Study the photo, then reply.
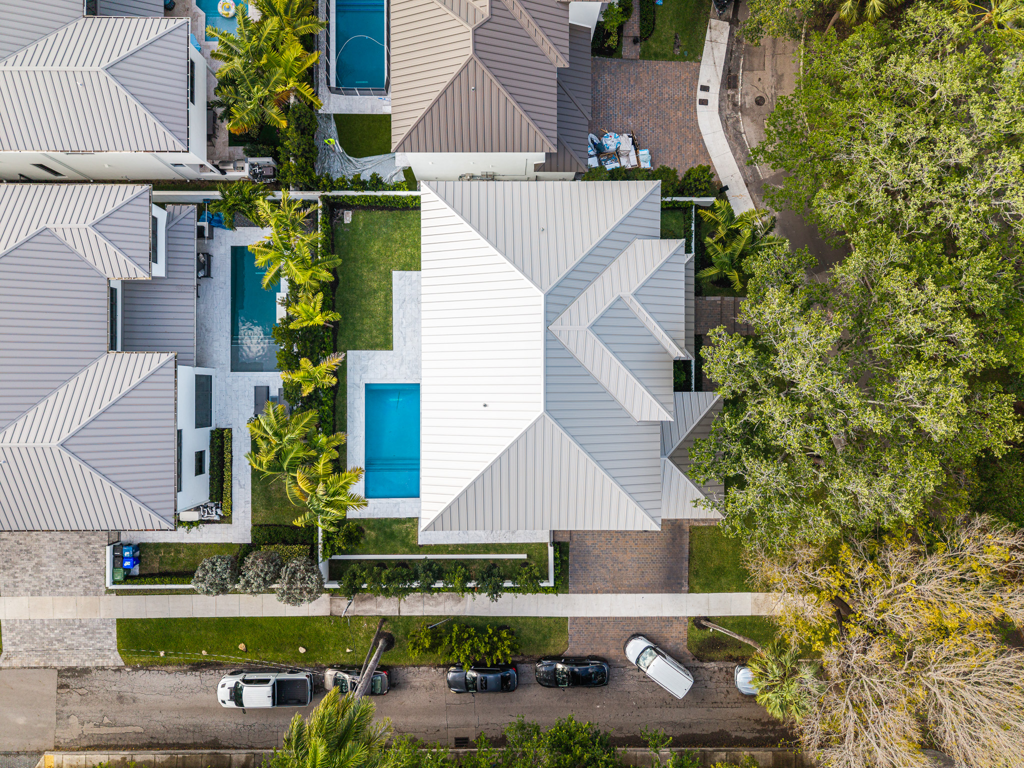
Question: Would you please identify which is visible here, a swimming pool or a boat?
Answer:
swimming pool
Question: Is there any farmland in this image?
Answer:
No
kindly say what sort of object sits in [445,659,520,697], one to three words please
car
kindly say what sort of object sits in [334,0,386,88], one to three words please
swimming pool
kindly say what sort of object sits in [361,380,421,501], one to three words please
swimming pool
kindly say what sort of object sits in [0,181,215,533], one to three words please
house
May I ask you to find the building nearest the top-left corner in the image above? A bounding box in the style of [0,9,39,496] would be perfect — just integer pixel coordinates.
[0,0,225,181]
